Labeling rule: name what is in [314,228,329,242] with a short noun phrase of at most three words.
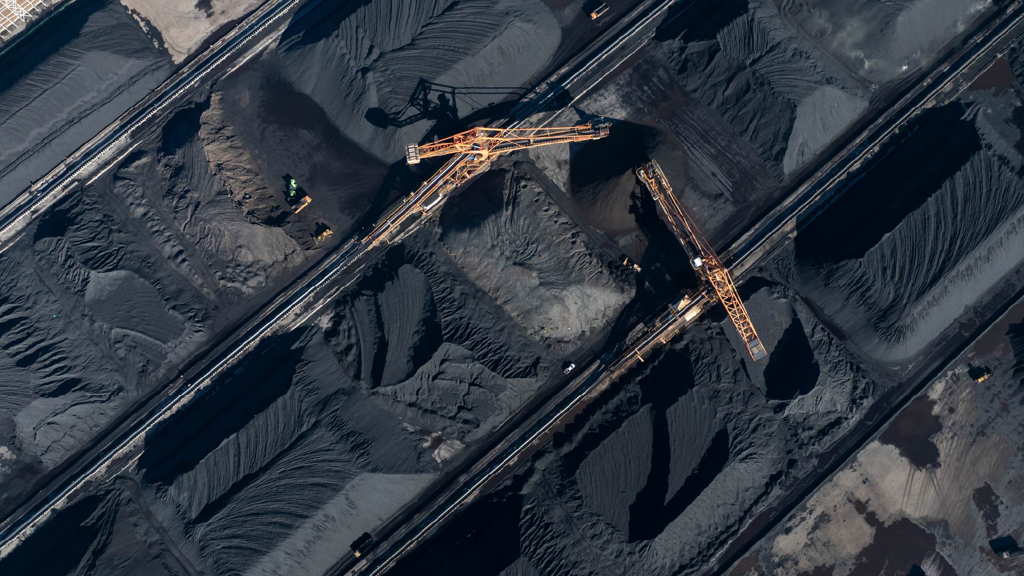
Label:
work vehicle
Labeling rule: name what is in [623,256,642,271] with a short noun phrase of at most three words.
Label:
work vehicle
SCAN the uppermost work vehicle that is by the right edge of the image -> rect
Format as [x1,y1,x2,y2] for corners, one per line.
[974,372,992,385]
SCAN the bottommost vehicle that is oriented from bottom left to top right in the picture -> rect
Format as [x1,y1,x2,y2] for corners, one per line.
[353,537,374,555]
